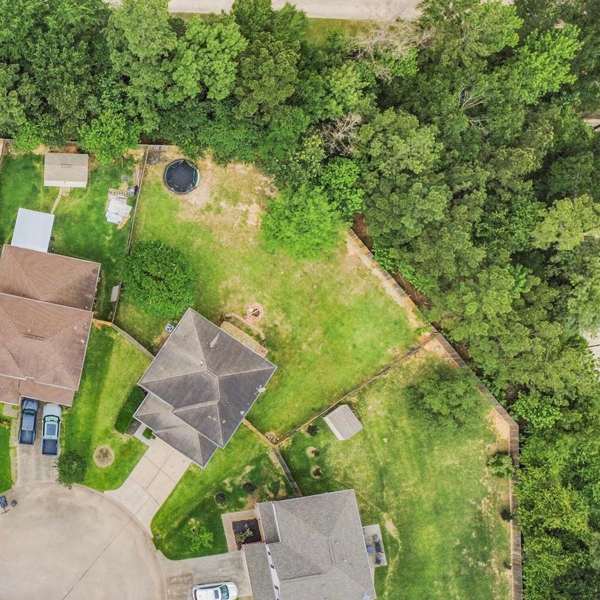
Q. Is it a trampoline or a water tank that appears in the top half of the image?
trampoline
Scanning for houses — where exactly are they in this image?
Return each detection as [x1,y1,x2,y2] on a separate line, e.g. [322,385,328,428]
[242,489,377,600]
[0,244,101,408]
[133,307,277,468]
